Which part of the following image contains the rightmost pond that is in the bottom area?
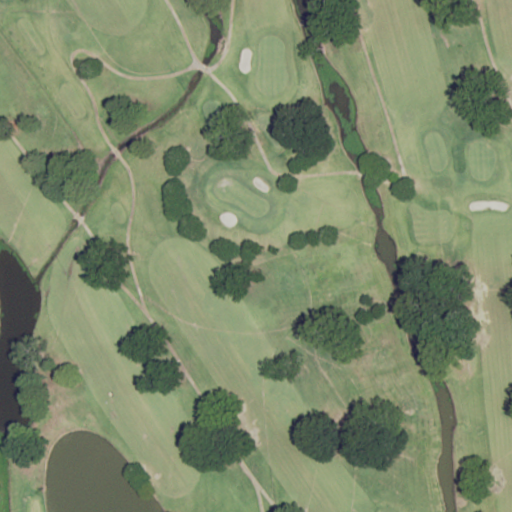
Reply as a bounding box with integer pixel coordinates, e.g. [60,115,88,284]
[46,431,164,512]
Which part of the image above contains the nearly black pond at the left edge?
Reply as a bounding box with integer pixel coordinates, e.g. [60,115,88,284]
[0,254,40,432]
